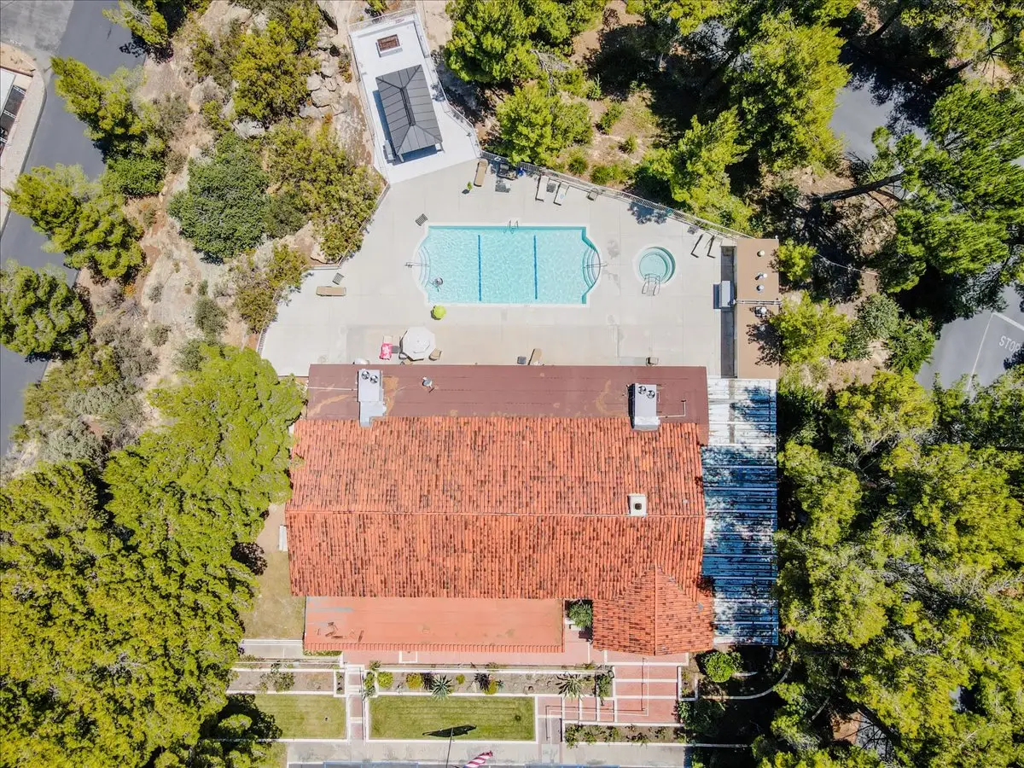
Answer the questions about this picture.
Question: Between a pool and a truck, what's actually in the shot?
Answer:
pool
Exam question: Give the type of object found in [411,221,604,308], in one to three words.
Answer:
swimming pool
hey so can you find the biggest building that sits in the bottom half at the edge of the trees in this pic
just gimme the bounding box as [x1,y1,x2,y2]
[284,365,715,659]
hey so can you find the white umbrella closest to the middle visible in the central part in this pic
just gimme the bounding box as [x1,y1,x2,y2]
[398,326,431,360]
